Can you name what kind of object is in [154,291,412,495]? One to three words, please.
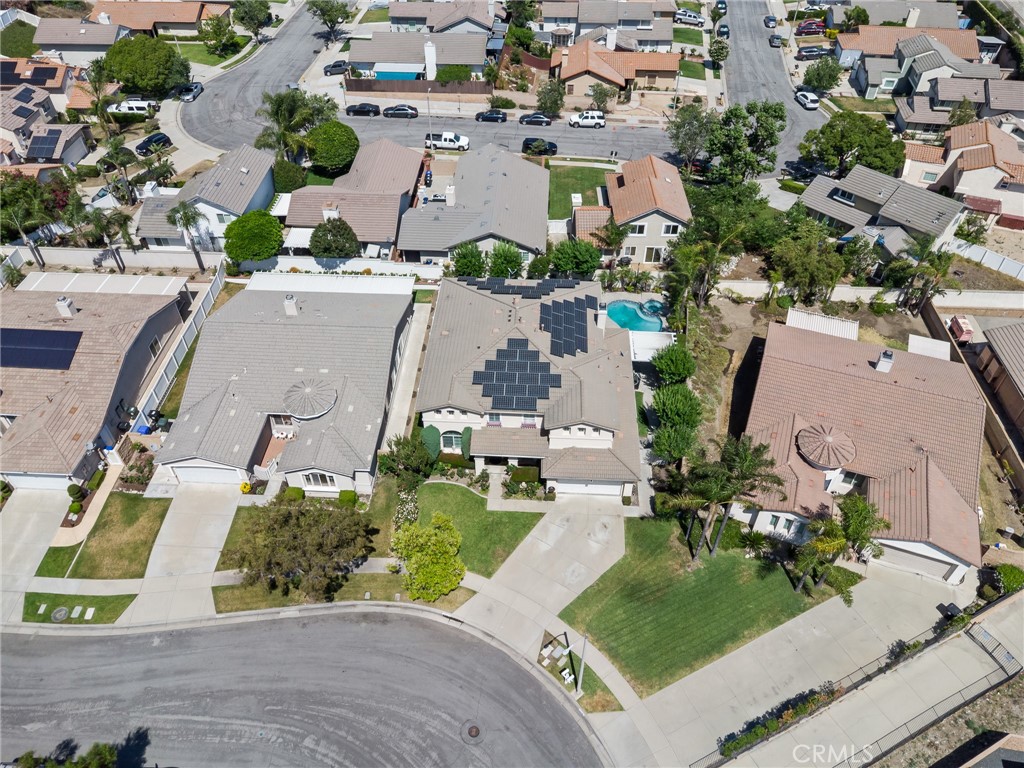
house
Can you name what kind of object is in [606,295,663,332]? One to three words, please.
swimming pool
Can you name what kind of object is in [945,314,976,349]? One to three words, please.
trailer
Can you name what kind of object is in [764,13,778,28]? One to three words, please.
car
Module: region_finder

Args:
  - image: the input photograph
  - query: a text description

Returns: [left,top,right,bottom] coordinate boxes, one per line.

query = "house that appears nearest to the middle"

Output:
[416,278,641,500]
